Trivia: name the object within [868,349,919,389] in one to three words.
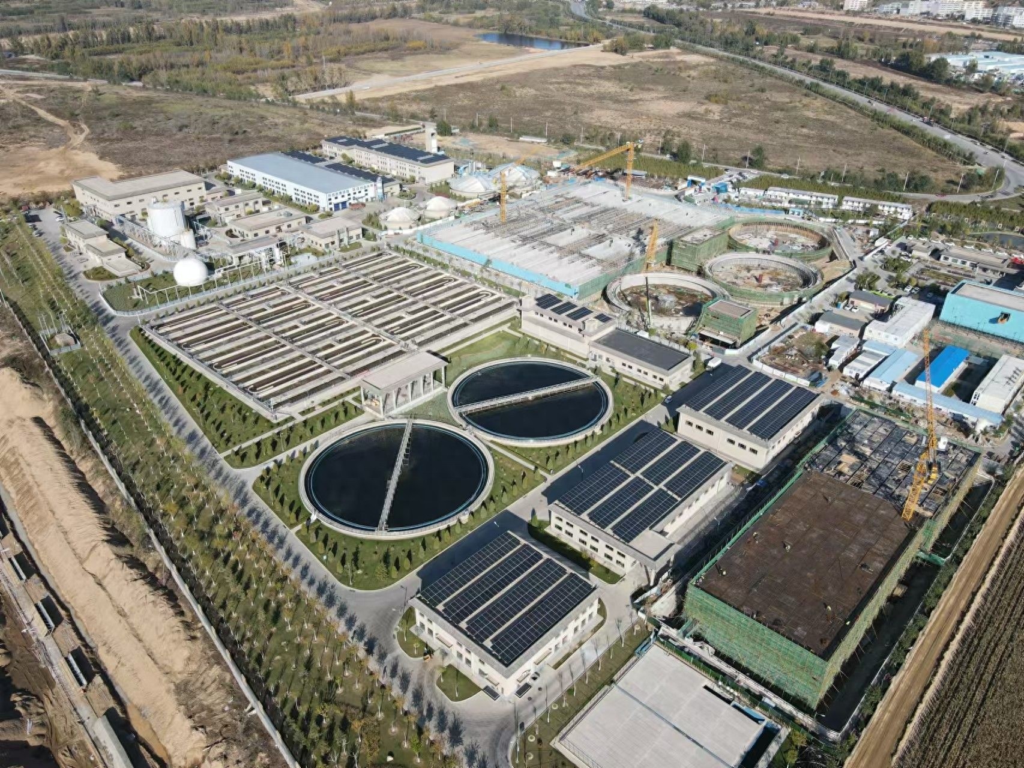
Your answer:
shed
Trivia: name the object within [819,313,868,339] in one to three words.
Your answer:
shed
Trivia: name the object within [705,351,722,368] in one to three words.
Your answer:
vehicle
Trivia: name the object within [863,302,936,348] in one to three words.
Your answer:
building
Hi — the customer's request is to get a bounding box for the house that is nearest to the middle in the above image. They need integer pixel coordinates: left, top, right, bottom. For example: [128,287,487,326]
[517,293,618,357]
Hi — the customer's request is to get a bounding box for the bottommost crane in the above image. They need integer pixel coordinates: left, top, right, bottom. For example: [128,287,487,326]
[900,319,944,528]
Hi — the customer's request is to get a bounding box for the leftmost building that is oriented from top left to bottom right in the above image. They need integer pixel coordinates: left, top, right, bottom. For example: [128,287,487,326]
[62,220,143,281]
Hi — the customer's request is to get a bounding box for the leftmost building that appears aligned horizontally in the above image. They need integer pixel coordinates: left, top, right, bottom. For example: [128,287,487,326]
[70,171,210,220]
